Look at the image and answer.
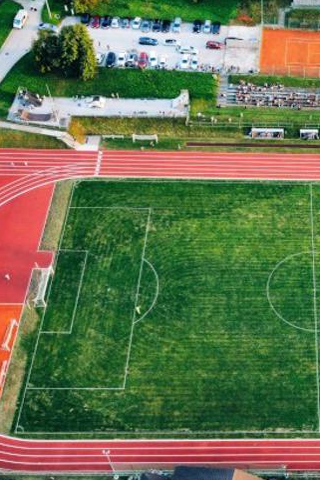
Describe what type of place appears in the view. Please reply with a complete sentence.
The area seen from above is a sports ground.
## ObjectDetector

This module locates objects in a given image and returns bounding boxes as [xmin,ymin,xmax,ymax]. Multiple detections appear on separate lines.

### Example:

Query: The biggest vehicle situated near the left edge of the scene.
[11,6,25,28]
